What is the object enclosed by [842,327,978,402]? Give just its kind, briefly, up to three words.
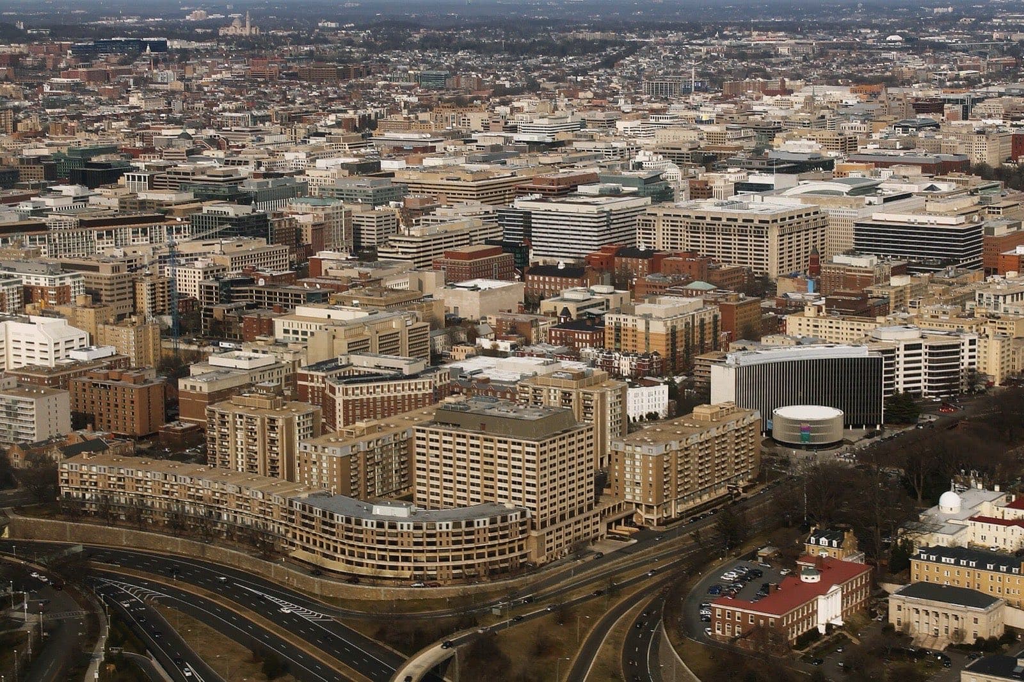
building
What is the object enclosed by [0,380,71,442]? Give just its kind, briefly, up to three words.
building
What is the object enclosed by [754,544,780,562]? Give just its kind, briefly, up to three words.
shed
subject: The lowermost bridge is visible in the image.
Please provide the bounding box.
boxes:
[388,634,506,682]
